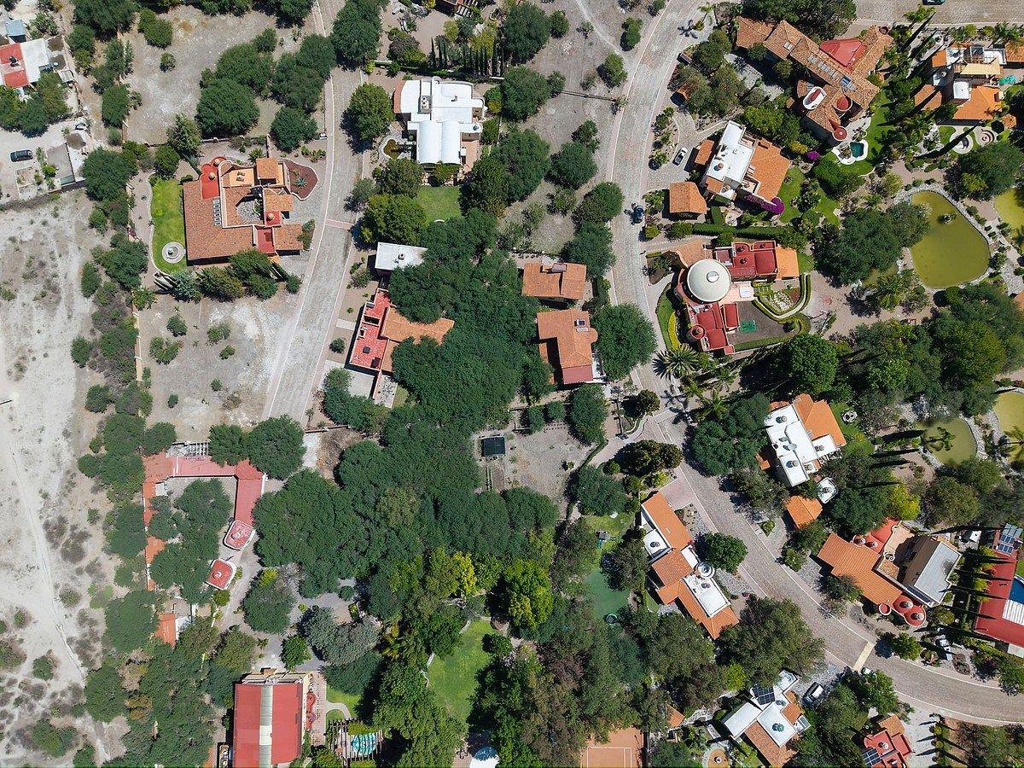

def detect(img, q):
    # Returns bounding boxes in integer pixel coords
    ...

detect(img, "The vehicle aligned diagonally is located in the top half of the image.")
[672,145,689,167]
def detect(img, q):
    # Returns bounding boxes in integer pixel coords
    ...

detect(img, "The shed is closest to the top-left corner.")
[6,20,31,42]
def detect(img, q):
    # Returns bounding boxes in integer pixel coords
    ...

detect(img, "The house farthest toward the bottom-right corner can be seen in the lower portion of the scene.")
[853,715,912,768]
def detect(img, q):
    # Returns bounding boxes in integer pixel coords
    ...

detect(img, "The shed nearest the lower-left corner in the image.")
[155,610,192,644]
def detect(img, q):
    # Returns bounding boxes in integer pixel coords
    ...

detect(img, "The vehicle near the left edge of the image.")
[9,149,34,162]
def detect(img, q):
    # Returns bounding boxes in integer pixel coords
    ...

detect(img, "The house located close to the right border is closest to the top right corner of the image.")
[911,40,1024,126]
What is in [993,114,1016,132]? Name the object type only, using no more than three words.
gazebo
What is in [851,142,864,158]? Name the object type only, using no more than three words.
swimming pool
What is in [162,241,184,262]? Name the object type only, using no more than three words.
fountain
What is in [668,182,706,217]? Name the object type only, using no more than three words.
building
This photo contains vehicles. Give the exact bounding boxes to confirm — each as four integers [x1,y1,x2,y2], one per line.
[802,680,825,706]
[924,0,945,6]
[633,203,644,224]
[9,149,34,162]
[936,634,952,660]
[857,663,878,680]
[672,145,689,167]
